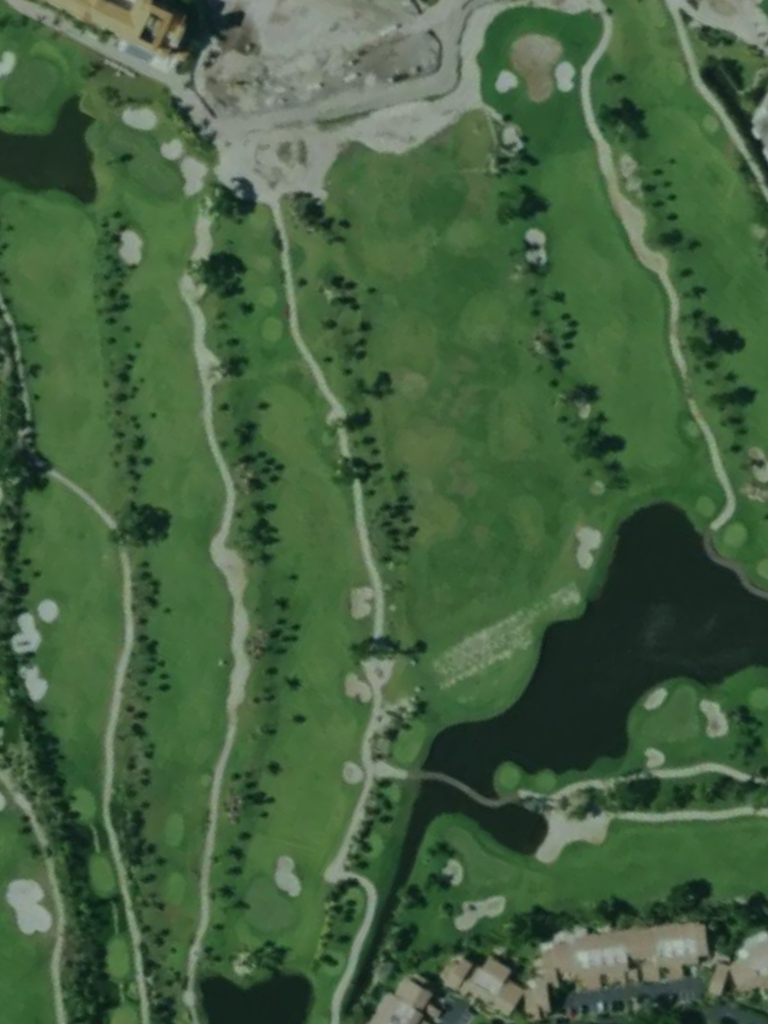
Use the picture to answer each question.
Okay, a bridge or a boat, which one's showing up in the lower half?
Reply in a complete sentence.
Visible in the lower half is a bridge.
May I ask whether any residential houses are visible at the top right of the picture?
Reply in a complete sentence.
No, I can find no residential house at the top right of the picture.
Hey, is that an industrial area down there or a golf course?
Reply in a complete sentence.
This looks like a golf course.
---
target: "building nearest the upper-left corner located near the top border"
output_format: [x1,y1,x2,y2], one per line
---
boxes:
[49,0,187,61]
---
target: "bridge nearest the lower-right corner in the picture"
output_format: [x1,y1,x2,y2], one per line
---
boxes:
[408,772,519,806]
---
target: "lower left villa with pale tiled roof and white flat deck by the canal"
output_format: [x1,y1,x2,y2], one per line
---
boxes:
[368,975,443,1024]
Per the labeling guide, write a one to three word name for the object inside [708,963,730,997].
building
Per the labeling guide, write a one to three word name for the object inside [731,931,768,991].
house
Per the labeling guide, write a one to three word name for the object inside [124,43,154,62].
swimming pool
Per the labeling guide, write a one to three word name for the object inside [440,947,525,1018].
house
